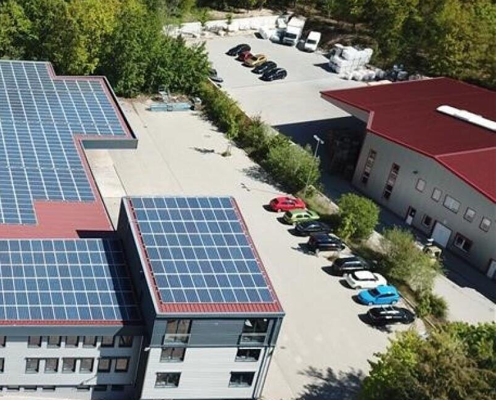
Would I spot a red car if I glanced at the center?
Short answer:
Yes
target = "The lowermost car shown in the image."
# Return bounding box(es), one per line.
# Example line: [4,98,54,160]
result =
[361,305,418,327]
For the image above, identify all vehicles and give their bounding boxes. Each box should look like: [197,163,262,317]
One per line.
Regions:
[326,255,376,275]
[302,233,349,253]
[341,271,387,291]
[252,62,276,76]
[244,55,266,68]
[355,286,403,307]
[282,208,318,225]
[262,69,287,83]
[361,305,418,327]
[284,10,304,46]
[291,219,332,237]
[302,29,320,54]
[268,196,307,214]
[236,50,255,63]
[227,44,249,57]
